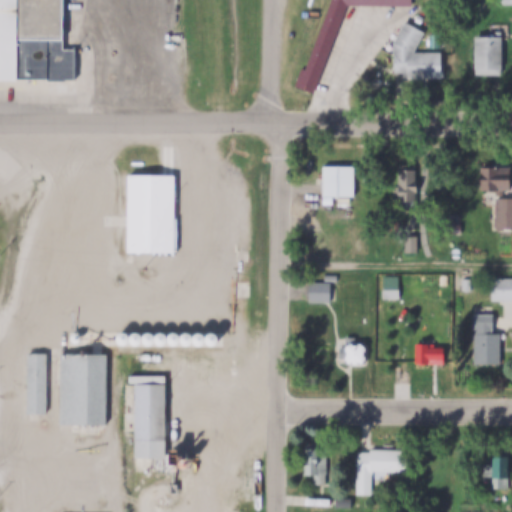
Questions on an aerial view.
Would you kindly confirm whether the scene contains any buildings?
Yes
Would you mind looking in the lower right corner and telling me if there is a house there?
Yes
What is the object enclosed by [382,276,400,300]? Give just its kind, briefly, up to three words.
shed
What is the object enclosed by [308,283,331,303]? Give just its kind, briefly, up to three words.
building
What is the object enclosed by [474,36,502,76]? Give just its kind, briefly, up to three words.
house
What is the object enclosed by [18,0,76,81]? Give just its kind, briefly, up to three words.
building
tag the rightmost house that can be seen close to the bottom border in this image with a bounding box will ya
[483,457,508,490]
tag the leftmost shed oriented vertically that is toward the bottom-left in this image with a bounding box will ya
[27,353,47,415]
